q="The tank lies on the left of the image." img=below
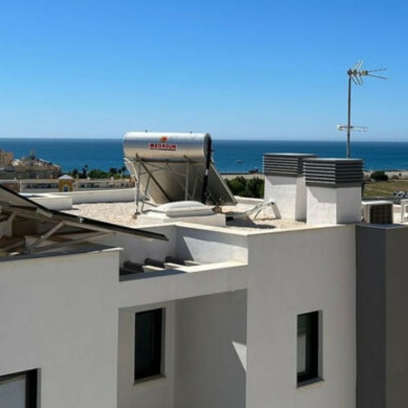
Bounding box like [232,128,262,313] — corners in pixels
[118,132,206,160]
